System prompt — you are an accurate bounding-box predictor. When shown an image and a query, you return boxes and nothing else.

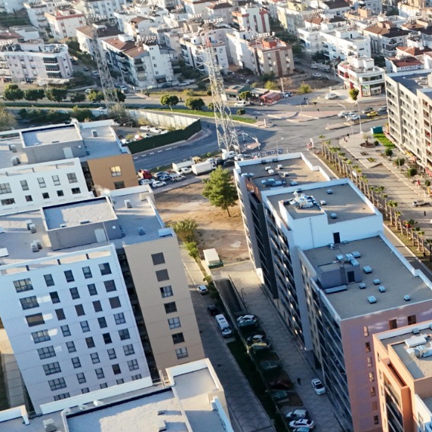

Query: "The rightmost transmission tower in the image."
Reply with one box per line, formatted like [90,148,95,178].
[208,30,251,156]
